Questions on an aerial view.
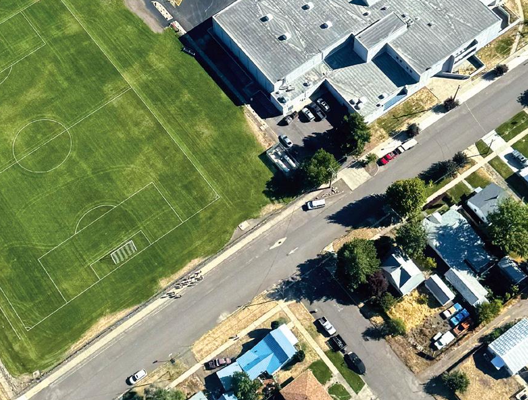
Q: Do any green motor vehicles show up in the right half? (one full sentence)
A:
No, no green motor vehicle can be made out in the right half.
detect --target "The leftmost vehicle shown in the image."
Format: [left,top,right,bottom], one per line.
[130,369,146,385]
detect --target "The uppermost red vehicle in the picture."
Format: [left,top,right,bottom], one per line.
[379,150,397,165]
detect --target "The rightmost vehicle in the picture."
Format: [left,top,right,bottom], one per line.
[510,148,528,164]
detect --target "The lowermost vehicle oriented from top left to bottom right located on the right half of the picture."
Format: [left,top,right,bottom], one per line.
[347,355,363,371]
